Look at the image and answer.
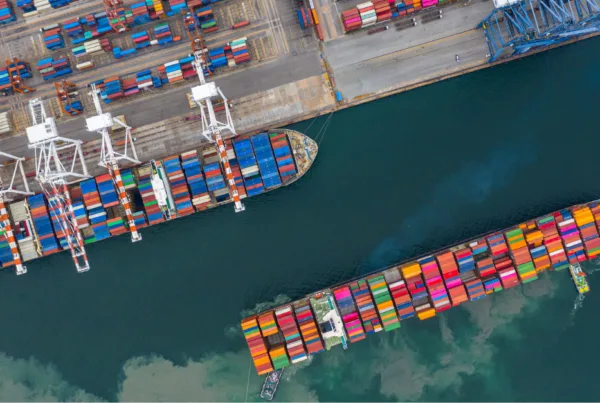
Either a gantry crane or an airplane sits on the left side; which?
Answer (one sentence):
You can see a gantry crane on the left side.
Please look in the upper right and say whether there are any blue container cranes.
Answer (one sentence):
Yes, there is a blue container crane in the upper right.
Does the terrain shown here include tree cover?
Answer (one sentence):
No, there is no tree cover in the image.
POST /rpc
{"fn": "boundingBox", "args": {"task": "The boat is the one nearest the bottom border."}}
[261,367,279,401]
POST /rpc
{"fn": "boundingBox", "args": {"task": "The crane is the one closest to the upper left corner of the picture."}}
[2,53,40,93]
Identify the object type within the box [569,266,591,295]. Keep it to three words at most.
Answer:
boat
